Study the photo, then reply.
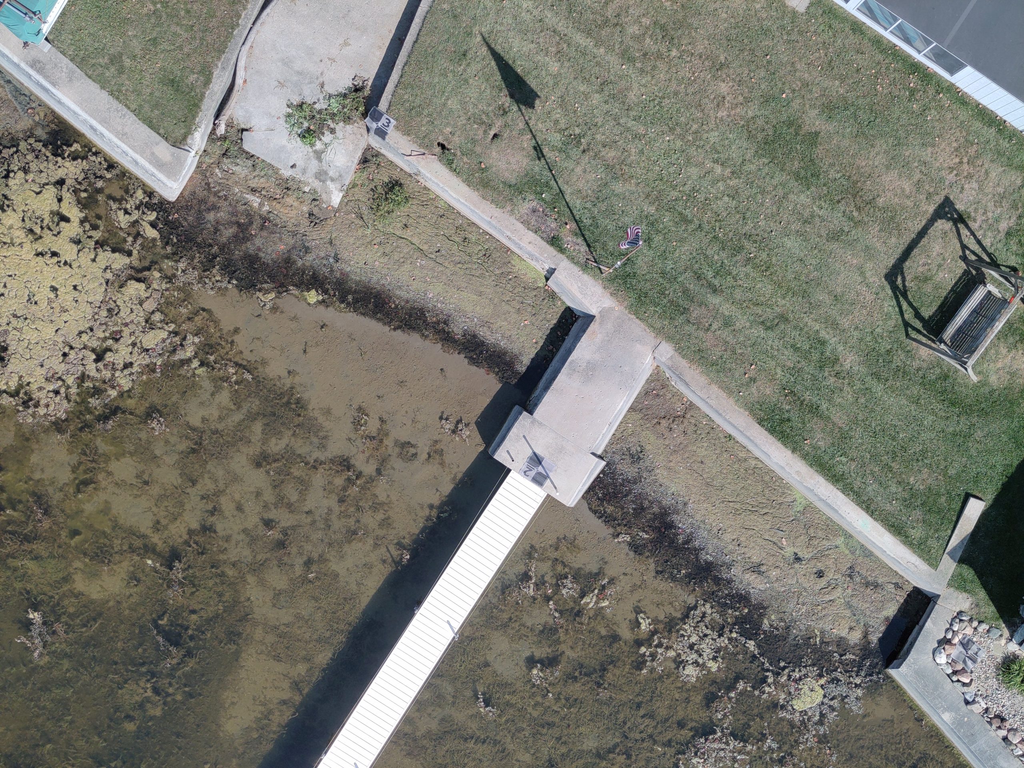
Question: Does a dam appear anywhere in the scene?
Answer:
No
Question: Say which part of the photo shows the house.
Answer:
top right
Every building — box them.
[832,0,1024,133]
